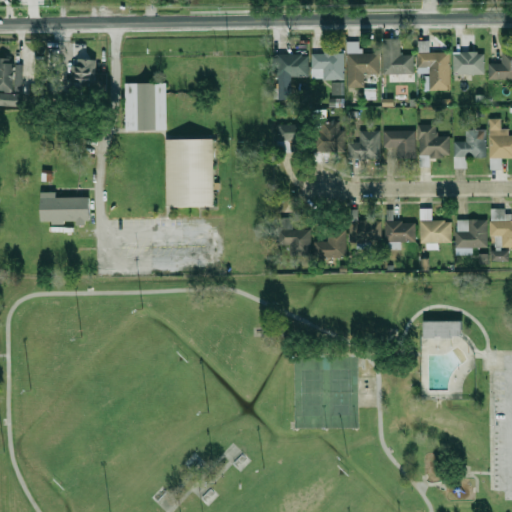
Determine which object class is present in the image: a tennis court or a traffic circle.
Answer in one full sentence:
Visible in the photo is a tennis court.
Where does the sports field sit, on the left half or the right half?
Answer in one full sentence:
It is on the left.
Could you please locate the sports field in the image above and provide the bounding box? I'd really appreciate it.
[14,292,329,512]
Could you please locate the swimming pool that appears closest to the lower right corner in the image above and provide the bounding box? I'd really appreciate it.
[422,338,476,400]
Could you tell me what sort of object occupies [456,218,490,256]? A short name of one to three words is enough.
house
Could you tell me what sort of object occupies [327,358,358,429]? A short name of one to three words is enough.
tennis court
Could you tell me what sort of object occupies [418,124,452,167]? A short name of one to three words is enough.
house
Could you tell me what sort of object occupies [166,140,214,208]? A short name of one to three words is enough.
building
